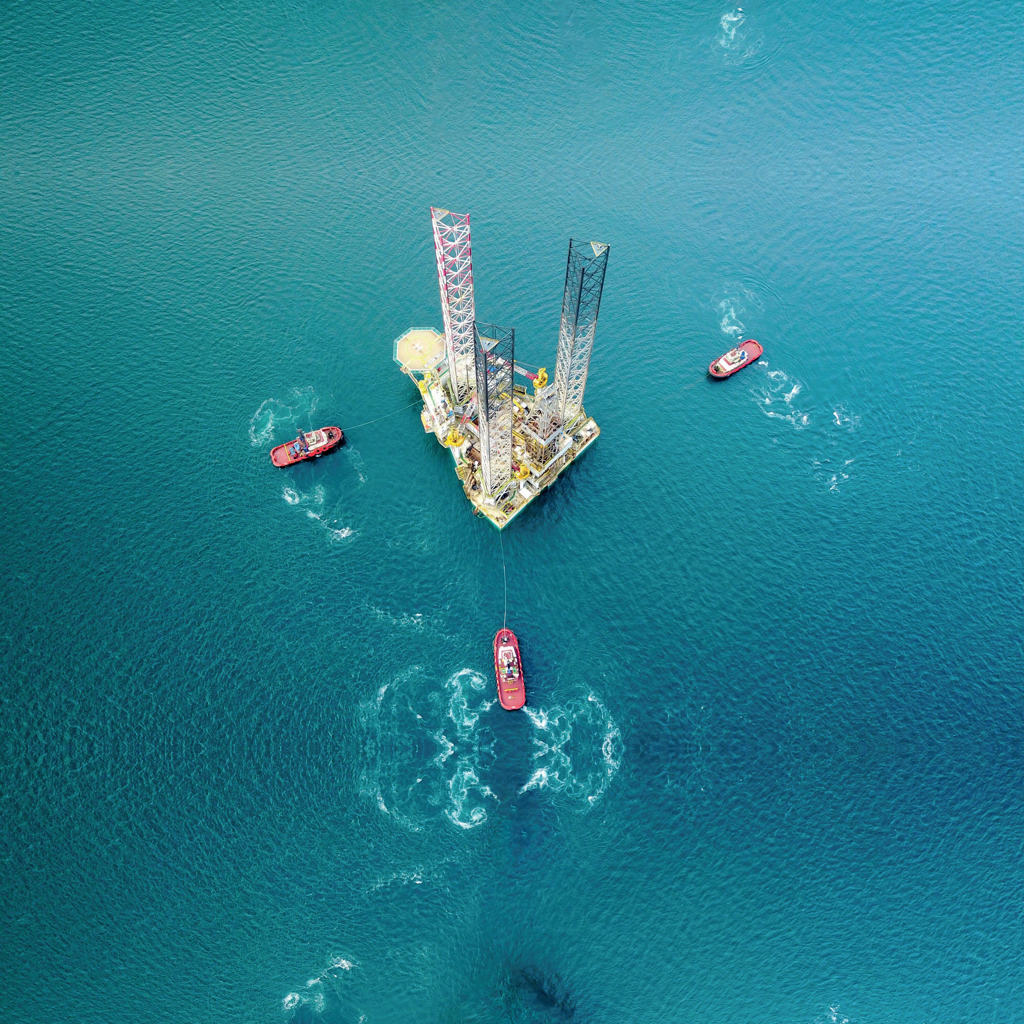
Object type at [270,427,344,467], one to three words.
boat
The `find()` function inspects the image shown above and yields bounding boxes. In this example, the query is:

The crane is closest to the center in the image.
[476,427,532,492]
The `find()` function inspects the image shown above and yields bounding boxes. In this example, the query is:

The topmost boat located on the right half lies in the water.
[708,340,765,376]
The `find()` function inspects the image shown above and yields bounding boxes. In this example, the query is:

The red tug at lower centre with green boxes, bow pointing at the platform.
[493,626,527,711]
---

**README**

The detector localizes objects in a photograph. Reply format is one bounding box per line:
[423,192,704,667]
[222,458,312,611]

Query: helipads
[393,327,449,386]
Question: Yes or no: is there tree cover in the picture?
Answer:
No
